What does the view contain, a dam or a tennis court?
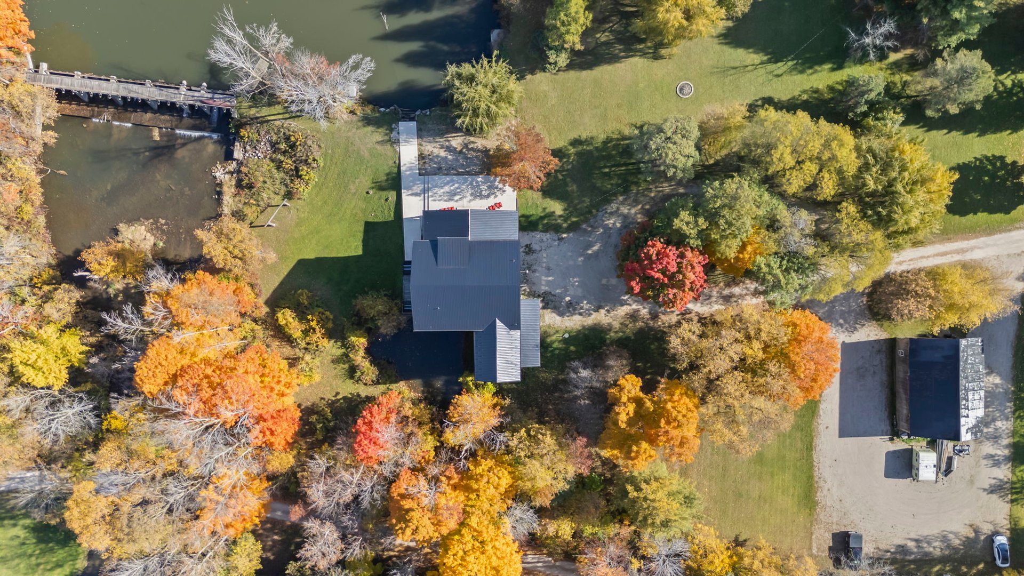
dam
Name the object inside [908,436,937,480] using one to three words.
vehicle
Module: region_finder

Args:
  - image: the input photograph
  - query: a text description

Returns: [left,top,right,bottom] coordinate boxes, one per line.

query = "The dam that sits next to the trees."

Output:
[24,65,243,158]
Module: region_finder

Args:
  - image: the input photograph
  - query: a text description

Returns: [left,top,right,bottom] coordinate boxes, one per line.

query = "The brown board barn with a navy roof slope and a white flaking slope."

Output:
[896,336,984,442]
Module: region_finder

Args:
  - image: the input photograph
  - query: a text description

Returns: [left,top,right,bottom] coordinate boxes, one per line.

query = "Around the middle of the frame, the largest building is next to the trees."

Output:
[408,207,540,383]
